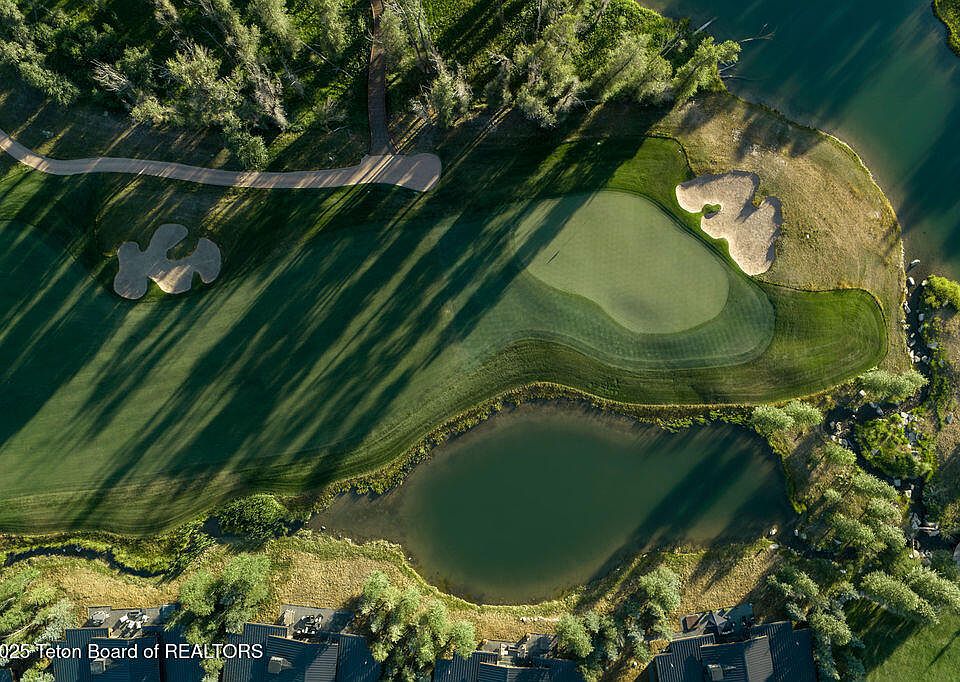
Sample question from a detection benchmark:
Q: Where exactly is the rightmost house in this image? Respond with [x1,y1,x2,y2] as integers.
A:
[654,603,815,682]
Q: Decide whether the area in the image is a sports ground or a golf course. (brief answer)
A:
golf course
